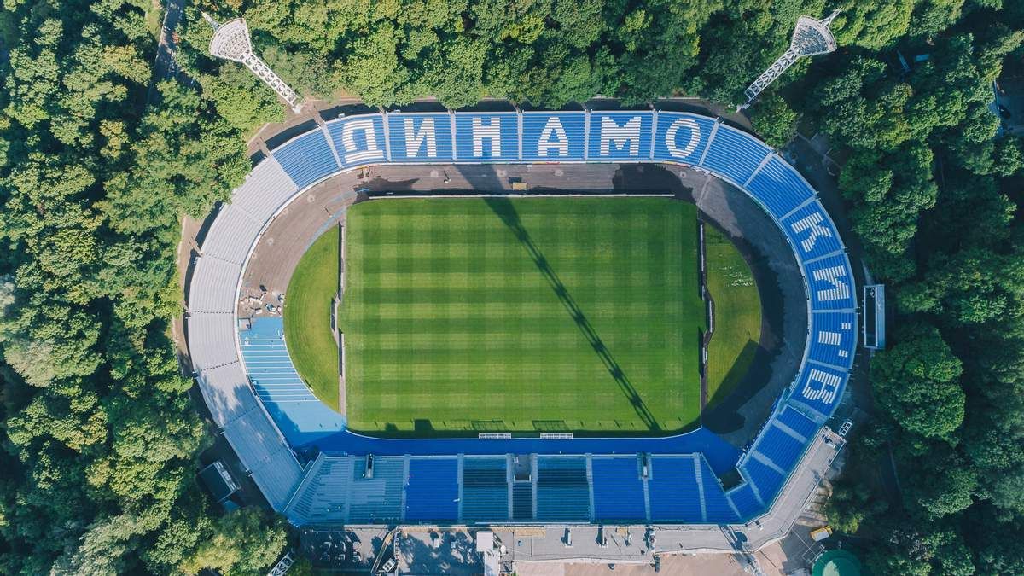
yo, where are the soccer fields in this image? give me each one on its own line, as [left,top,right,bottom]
[284,197,761,438]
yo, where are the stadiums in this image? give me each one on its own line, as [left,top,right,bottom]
[170,94,869,528]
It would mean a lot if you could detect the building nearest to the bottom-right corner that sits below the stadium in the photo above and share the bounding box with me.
[809,546,861,576]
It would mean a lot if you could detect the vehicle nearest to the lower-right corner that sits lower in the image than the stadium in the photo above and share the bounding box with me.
[811,528,833,544]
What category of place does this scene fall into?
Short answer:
sports ground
